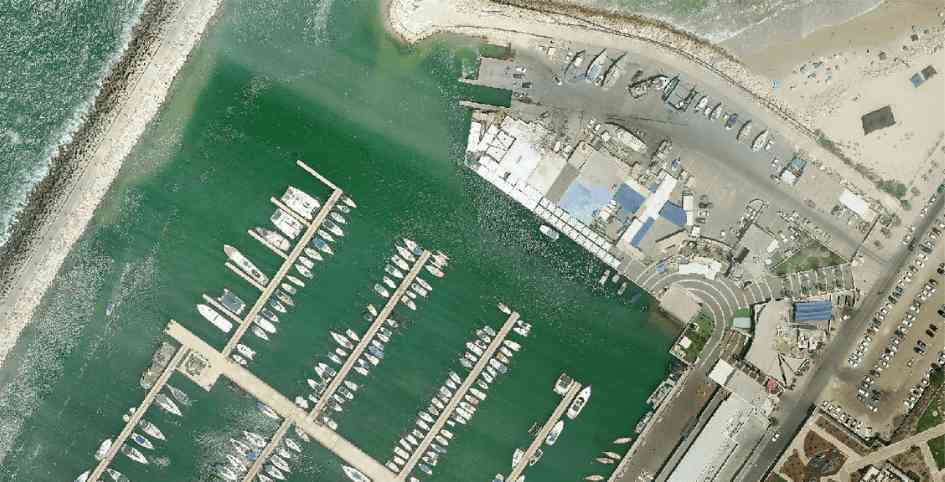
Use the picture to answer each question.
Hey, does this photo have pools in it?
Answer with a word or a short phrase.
No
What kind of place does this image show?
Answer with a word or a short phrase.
port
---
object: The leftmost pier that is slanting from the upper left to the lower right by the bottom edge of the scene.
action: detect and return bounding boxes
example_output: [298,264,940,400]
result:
[165,319,403,482]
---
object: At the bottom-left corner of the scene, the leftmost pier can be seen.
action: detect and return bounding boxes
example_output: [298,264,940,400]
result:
[88,349,186,482]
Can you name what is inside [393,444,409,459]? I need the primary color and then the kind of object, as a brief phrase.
white boat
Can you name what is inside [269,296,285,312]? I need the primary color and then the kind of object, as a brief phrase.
white boat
